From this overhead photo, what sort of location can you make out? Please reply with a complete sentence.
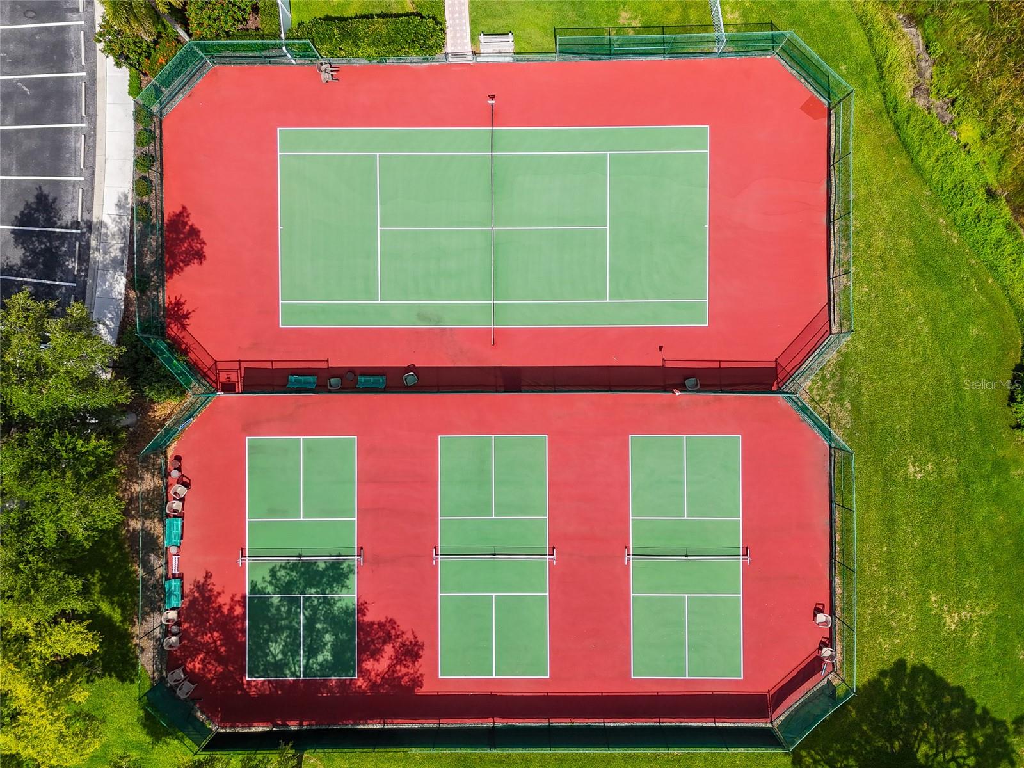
This image shows a sports ground.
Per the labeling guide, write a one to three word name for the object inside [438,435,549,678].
sports court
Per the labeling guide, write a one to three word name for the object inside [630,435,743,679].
sports court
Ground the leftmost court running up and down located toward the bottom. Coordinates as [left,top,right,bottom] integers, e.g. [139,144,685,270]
[246,437,357,679]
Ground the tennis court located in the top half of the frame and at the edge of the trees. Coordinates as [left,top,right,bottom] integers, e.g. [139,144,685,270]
[163,57,830,392]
